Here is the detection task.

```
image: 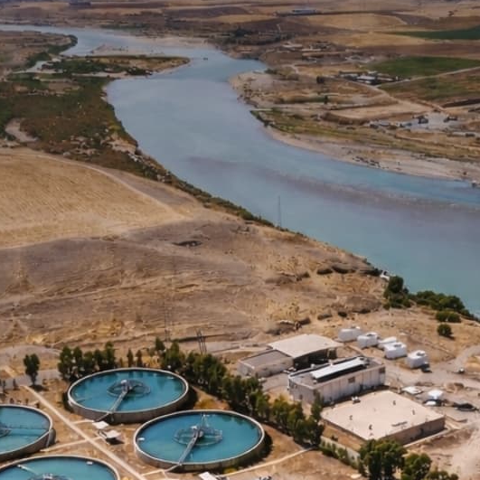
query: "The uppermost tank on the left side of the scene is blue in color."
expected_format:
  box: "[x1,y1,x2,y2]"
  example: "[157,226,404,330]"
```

[68,369,189,430]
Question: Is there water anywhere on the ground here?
Yes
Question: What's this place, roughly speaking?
industrial area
